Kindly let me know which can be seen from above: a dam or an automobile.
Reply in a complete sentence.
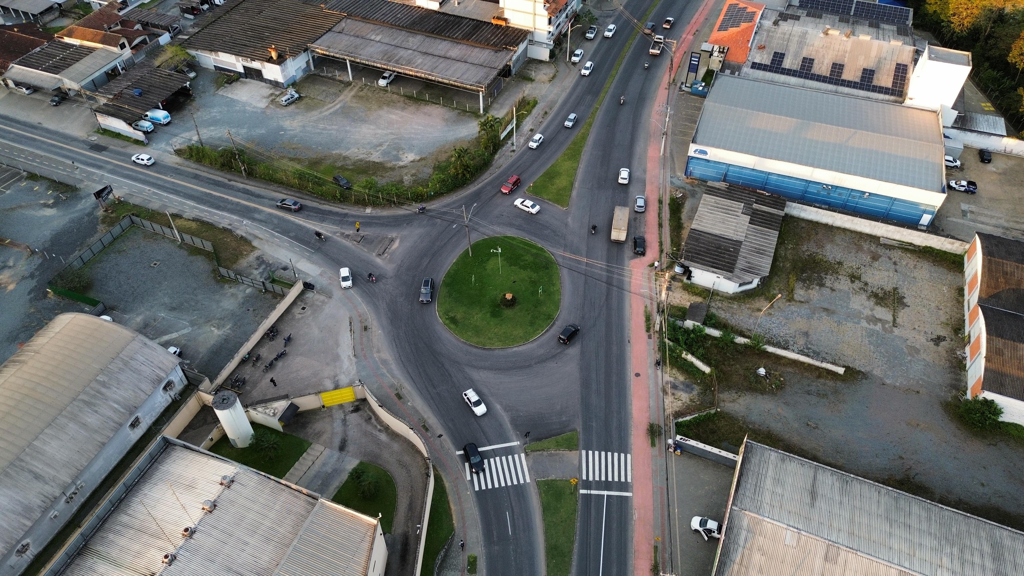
Looking from above, you can make out an automobile.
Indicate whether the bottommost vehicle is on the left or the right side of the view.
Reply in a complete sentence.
You can find the bottommost vehicle on the right side of the picture.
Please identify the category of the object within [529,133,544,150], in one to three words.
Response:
car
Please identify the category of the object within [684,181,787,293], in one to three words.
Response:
house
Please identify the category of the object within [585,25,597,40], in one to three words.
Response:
vehicle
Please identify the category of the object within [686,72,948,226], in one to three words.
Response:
building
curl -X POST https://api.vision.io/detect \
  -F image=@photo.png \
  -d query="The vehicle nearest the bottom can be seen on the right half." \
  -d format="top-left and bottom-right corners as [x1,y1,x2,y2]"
[690,516,718,543]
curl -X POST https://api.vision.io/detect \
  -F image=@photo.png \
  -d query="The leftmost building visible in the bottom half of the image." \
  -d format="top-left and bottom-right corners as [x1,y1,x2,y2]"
[0,313,189,576]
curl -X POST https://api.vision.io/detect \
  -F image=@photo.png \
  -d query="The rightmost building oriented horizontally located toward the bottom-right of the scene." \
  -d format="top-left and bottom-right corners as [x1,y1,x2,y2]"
[703,431,1024,576]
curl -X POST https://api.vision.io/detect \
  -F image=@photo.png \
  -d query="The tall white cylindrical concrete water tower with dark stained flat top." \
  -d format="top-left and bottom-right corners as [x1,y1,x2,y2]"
[195,380,253,451]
